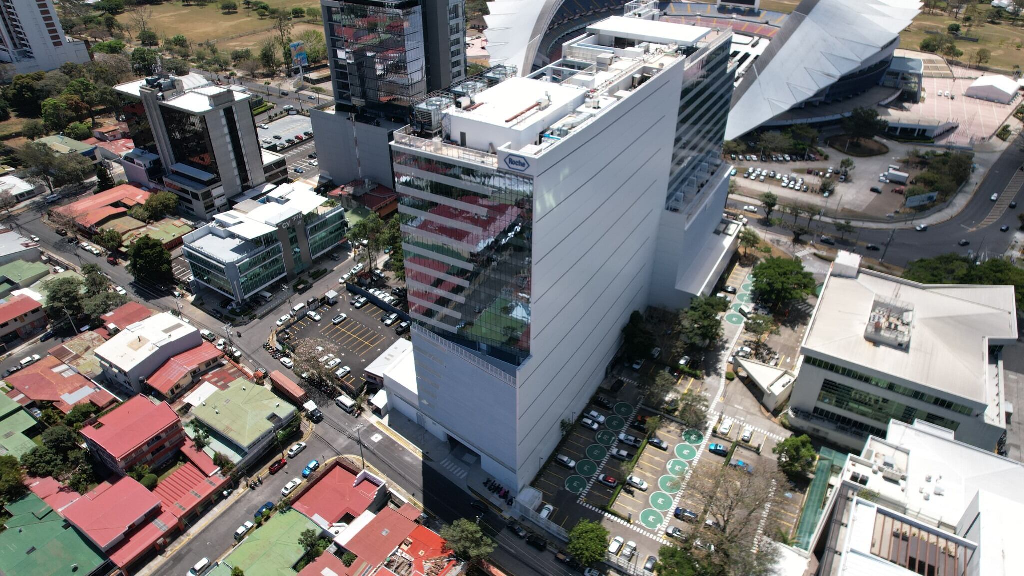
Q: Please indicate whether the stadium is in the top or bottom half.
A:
top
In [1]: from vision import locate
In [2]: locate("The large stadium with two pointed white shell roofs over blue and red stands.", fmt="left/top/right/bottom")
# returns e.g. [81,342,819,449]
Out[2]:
[496,0,930,140]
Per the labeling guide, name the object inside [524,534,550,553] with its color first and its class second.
black car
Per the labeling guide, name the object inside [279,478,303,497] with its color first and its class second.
white car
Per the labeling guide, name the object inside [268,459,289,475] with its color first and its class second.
red car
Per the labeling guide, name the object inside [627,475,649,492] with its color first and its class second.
white car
